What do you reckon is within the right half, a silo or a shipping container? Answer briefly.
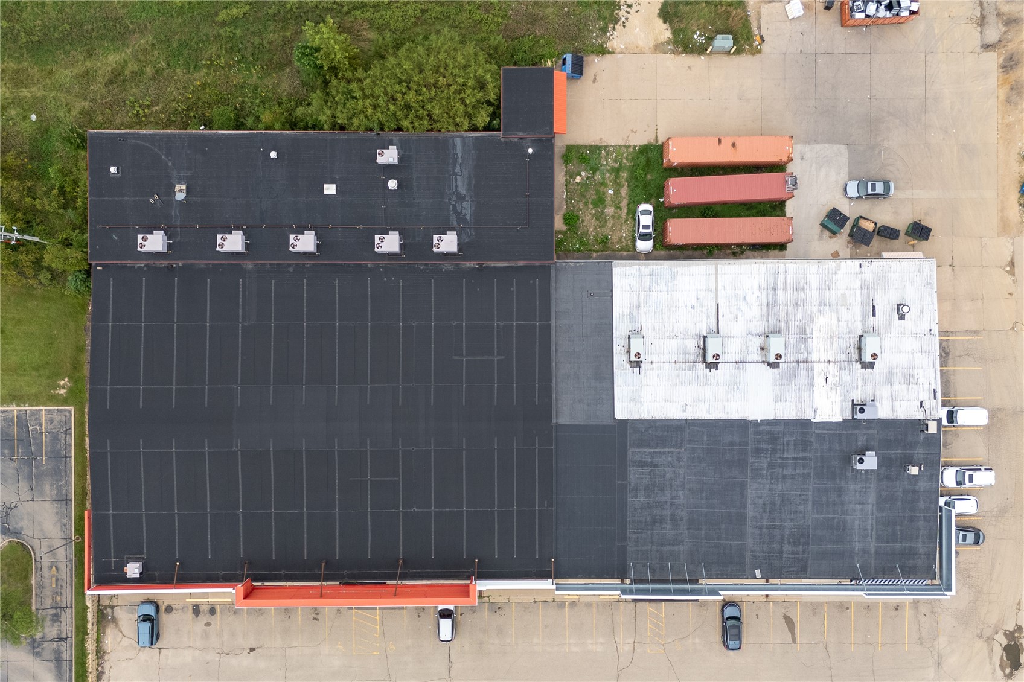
shipping container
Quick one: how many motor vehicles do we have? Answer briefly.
nine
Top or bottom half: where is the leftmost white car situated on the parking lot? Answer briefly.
bottom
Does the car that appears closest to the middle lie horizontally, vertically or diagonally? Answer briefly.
vertically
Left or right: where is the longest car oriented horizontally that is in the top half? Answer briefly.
right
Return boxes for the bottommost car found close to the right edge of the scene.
[955,525,986,548]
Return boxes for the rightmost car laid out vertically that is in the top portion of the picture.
[634,204,656,253]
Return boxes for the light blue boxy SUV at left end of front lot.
[135,599,163,649]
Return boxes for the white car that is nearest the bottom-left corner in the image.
[436,606,457,645]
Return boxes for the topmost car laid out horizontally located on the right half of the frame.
[843,177,894,201]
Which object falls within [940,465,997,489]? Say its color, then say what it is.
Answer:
white car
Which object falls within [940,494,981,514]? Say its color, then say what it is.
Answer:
white car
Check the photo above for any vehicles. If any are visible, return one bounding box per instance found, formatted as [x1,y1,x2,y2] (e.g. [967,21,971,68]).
[940,465,997,489]
[436,606,457,645]
[941,406,991,428]
[955,525,986,548]
[720,601,744,653]
[940,494,981,514]
[135,599,163,649]
[634,204,656,253]
[843,177,894,201]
